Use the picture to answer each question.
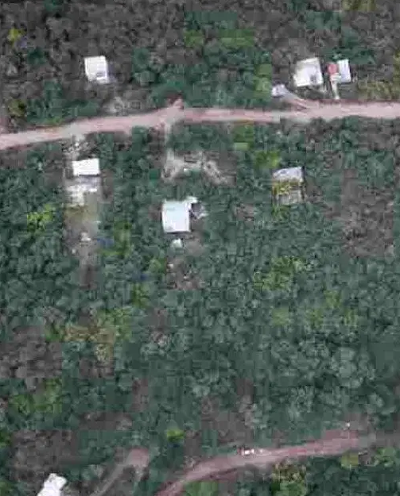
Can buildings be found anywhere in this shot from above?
Yes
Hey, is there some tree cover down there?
Yes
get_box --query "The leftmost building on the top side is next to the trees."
[66,159,102,207]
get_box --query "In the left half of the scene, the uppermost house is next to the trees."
[84,57,121,84]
